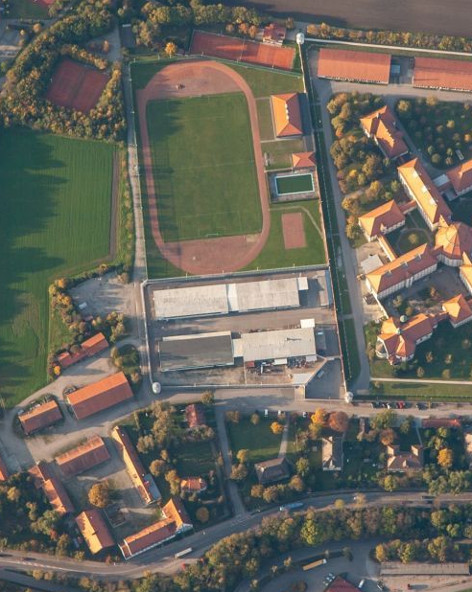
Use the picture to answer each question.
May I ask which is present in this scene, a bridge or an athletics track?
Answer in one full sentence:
The one in the frame is an athletics track.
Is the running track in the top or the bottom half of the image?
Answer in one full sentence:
Seen from above, the running track lies in the top half of the view.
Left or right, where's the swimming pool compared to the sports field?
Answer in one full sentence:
The sports field has the swimming pool on its right side.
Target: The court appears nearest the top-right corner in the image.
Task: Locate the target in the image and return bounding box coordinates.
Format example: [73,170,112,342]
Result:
[259,41,295,70]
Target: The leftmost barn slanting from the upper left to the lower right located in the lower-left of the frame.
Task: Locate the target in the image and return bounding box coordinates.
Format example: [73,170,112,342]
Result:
[31,460,68,513]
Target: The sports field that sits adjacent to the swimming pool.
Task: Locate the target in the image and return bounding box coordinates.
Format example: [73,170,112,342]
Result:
[146,92,263,242]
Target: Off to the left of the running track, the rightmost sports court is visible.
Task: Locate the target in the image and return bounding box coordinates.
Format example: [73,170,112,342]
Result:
[45,58,110,110]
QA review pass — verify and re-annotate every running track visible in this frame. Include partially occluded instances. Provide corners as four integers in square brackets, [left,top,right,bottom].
[137,60,270,276]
